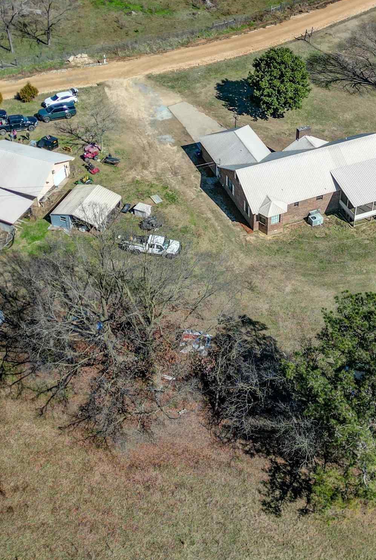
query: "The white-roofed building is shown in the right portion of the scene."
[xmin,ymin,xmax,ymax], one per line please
[199,120,376,233]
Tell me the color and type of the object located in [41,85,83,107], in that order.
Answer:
white car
